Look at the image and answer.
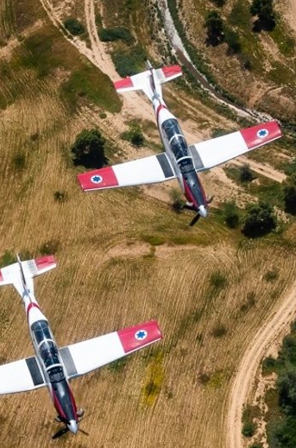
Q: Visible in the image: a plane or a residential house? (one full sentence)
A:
I can see a plane in this picture.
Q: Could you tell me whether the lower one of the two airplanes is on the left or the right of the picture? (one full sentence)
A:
You can find the lower one of the two airplanes on the left side of the picture.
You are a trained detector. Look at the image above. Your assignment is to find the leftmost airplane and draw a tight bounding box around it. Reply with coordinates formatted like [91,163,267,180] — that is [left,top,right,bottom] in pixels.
[0,255,163,442]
